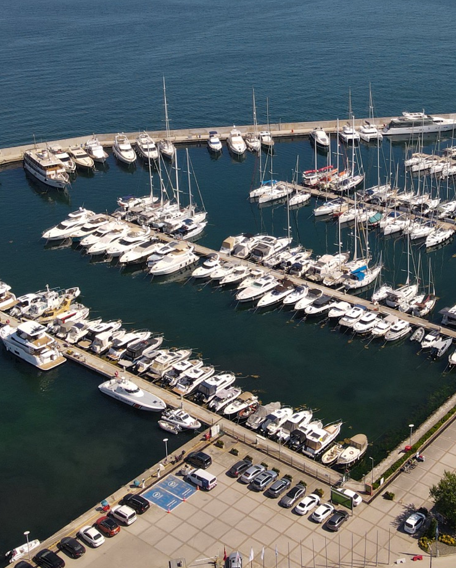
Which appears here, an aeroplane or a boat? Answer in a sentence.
It is a boat that can be seen here.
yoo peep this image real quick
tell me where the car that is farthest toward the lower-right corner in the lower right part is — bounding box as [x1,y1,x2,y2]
[404,510,428,534]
